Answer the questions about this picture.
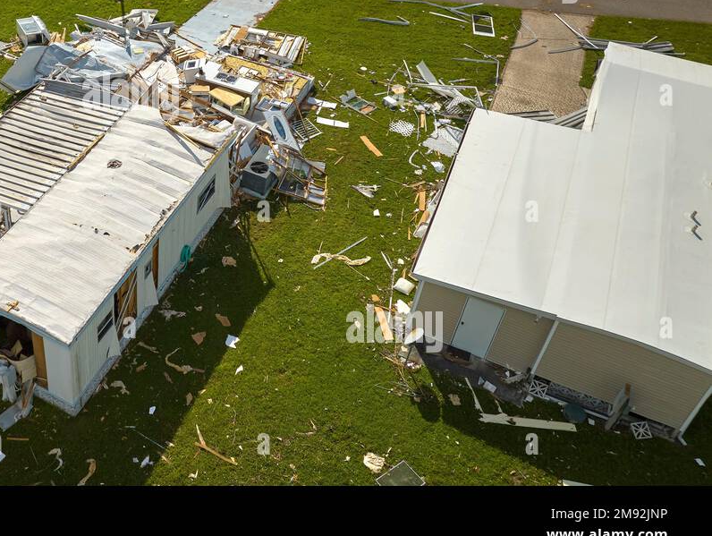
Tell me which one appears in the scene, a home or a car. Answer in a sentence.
The image shows a home.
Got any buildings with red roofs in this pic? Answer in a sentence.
No, there's no building with a red roof here.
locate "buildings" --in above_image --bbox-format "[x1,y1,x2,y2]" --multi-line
[0,69,235,414]
[403,47,712,464]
